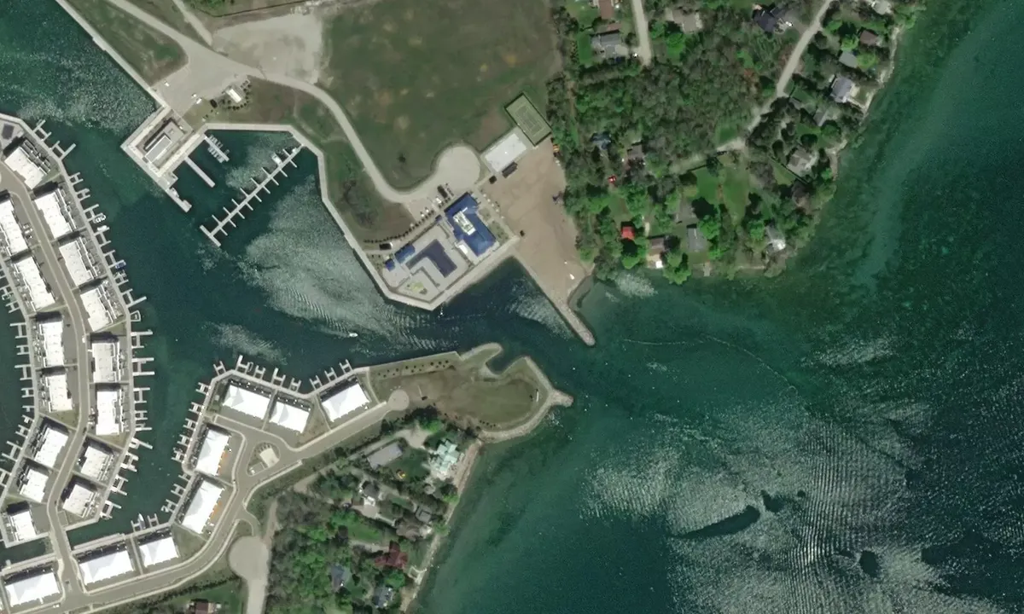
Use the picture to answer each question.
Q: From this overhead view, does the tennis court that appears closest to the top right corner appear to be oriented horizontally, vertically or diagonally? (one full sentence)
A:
From this overhead view, the tennis court that appears closest to the top right corner appears to run diagonally.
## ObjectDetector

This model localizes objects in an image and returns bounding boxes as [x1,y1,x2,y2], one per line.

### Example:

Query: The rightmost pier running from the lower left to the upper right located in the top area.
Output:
[200,144,304,247]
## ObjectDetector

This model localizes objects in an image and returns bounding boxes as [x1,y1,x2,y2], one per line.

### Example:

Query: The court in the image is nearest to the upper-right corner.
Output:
[504,92,549,145]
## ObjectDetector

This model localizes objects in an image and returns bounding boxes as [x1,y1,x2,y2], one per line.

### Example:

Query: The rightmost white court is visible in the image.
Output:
[484,132,527,171]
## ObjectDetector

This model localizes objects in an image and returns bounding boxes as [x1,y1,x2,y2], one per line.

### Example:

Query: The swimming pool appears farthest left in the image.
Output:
[1,124,14,140]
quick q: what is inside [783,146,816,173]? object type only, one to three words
house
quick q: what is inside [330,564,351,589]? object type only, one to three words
house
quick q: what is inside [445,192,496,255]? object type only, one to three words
building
